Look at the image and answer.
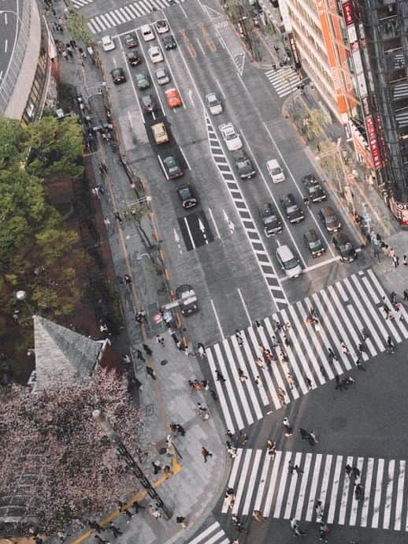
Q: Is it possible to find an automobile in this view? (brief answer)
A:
Yes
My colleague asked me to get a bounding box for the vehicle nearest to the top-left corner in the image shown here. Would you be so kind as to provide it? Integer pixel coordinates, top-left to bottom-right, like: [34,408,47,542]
[100,36,116,53]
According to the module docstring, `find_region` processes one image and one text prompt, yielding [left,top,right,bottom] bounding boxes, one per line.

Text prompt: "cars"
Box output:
[151,123,170,145]
[206,93,224,115]
[221,126,242,149]
[163,156,184,182]
[331,233,359,268]
[176,183,198,211]
[301,227,328,262]
[134,72,152,90]
[125,51,141,69]
[316,199,344,237]
[138,94,157,113]
[234,153,255,180]
[259,205,283,236]
[164,89,182,109]
[110,69,128,87]
[100,36,116,53]
[264,158,287,185]
[123,33,139,50]
[301,174,327,203]
[140,26,157,42]
[154,69,171,87]
[279,194,305,224]
[147,48,164,64]
[161,35,178,52]
[274,239,302,278]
